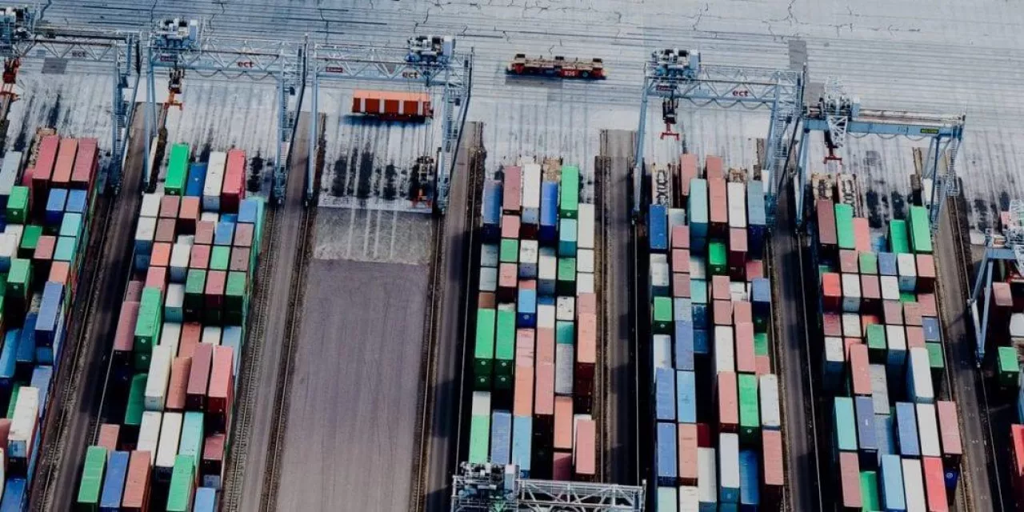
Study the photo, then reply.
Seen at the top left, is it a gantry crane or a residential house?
gantry crane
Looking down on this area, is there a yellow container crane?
No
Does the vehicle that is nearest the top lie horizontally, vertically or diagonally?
horizontally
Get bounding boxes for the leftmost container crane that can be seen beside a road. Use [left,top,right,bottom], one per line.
[0,4,146,190]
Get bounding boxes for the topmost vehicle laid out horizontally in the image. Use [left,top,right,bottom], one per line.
[509,53,602,79]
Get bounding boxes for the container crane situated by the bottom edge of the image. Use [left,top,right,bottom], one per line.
[450,456,647,512]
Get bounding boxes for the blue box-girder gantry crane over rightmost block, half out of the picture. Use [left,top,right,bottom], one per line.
[968,197,1024,356]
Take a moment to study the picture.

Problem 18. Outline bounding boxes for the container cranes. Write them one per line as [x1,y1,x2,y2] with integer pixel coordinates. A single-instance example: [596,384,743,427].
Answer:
[792,75,969,233]
[142,16,311,200]
[632,44,806,227]
[306,31,476,209]
[968,197,1024,356]
[0,4,146,190]
[450,456,647,512]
